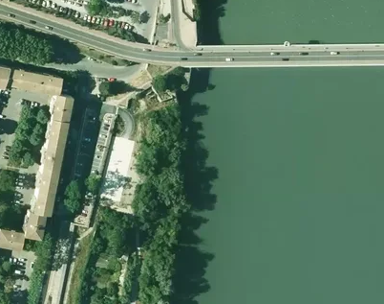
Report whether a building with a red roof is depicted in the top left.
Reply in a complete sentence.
No, no building with a red roof is visible in the top left.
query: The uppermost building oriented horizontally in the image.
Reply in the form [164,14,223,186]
[10,70,63,96]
